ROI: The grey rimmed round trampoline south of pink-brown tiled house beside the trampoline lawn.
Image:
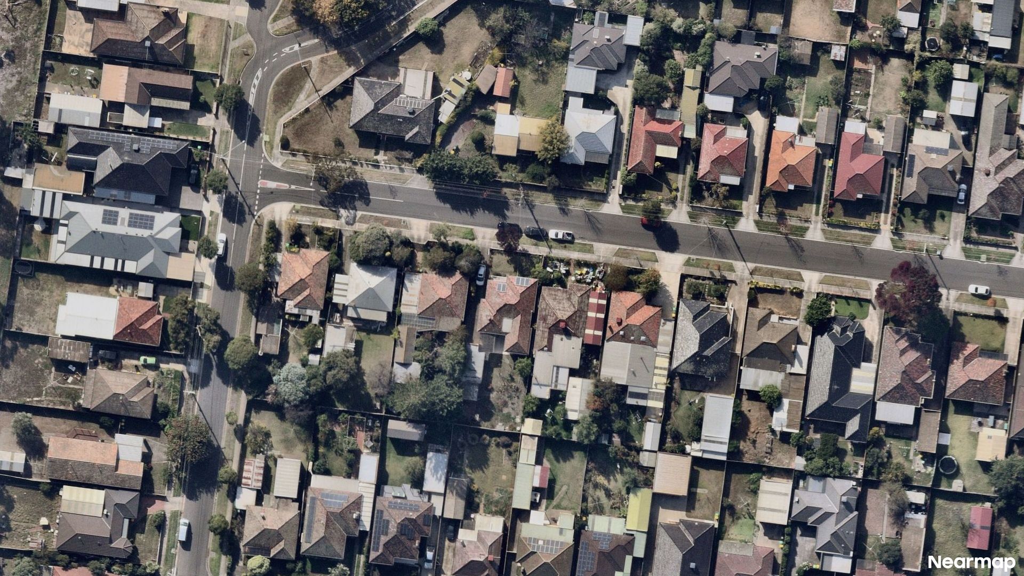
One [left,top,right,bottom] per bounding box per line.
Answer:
[938,455,957,474]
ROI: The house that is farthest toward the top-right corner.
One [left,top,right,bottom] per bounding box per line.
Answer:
[970,0,1015,50]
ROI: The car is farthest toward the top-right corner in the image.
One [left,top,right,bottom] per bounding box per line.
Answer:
[960,120,972,144]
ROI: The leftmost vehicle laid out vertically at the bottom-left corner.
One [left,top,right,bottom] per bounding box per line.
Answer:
[177,517,190,542]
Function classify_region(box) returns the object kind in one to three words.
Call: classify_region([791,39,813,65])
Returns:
shed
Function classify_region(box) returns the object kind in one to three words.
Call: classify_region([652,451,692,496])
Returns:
building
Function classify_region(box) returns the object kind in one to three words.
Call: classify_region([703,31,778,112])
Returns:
house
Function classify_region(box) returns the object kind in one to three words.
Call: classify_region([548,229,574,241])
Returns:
vehicle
